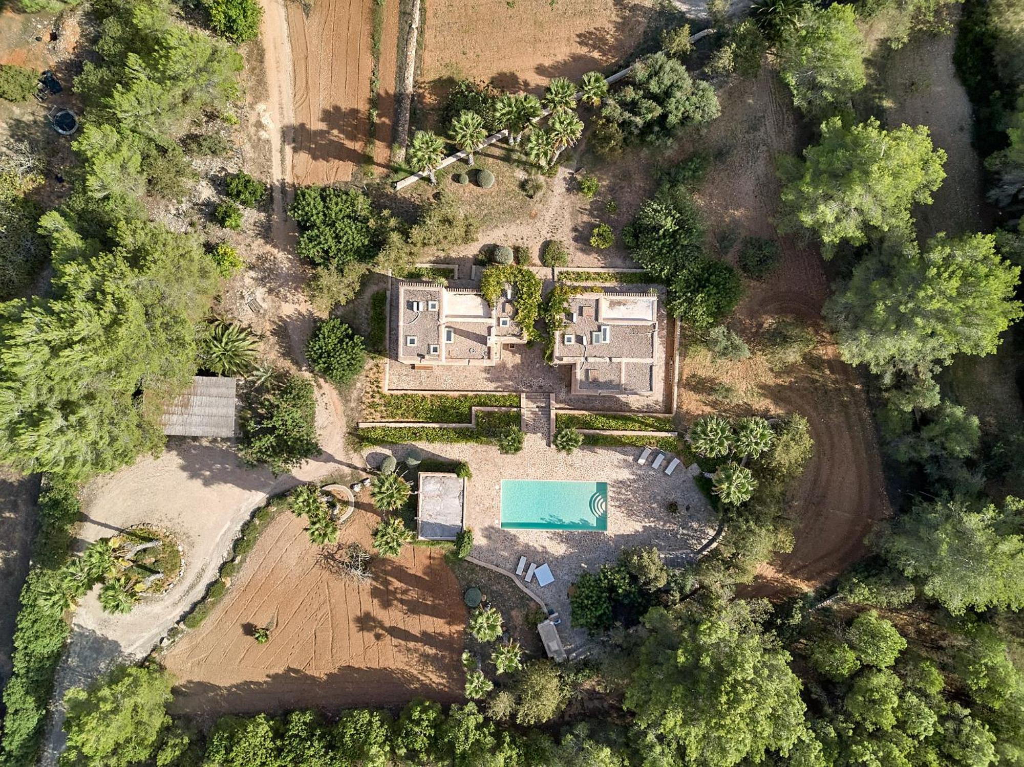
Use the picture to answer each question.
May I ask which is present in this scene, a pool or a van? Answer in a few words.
pool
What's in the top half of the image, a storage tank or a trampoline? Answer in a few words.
trampoline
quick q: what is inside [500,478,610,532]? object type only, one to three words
swimming pool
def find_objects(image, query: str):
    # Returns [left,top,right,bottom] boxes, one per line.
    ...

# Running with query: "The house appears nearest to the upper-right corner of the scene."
[552,291,661,398]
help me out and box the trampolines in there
[49,107,83,136]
